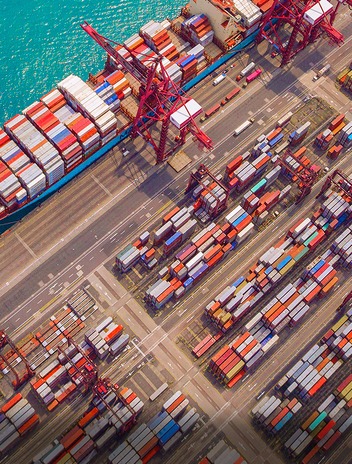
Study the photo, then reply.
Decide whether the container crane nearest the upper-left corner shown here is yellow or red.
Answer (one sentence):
The color of the container crane nearest the upper-left corner is red.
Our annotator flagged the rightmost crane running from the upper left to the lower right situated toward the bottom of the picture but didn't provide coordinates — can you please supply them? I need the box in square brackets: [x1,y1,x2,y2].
[92,377,136,429]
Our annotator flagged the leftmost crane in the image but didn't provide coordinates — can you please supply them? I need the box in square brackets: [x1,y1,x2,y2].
[0,331,35,383]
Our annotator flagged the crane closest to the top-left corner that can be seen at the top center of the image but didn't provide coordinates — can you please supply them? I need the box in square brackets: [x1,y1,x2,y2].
[79,24,218,166]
